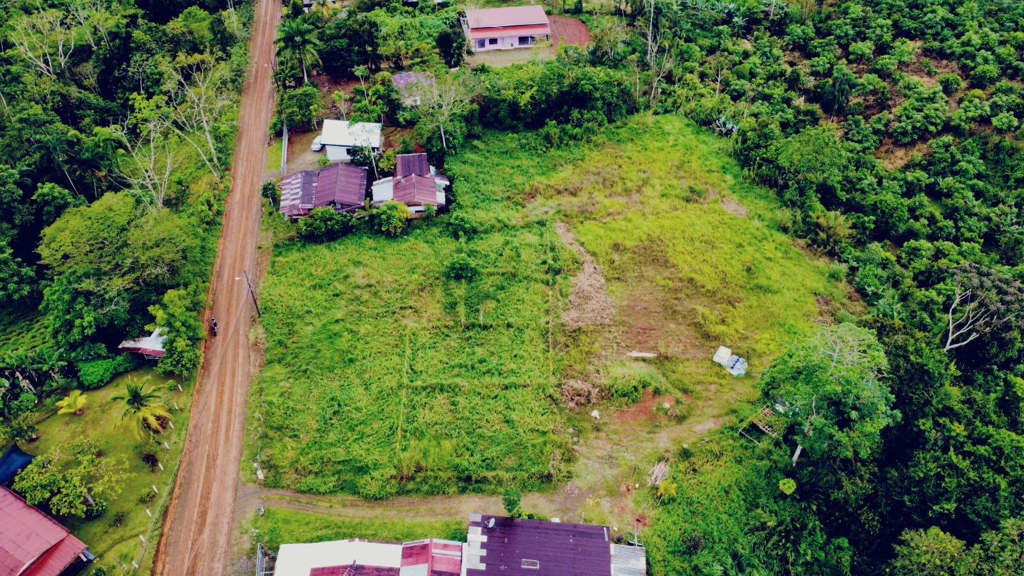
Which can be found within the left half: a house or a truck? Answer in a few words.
house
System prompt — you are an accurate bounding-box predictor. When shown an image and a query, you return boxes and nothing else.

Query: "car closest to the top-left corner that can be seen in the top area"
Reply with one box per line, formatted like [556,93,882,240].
[307,135,322,152]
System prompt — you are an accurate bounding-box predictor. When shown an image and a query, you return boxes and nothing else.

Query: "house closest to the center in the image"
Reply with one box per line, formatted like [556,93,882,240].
[369,151,458,226]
